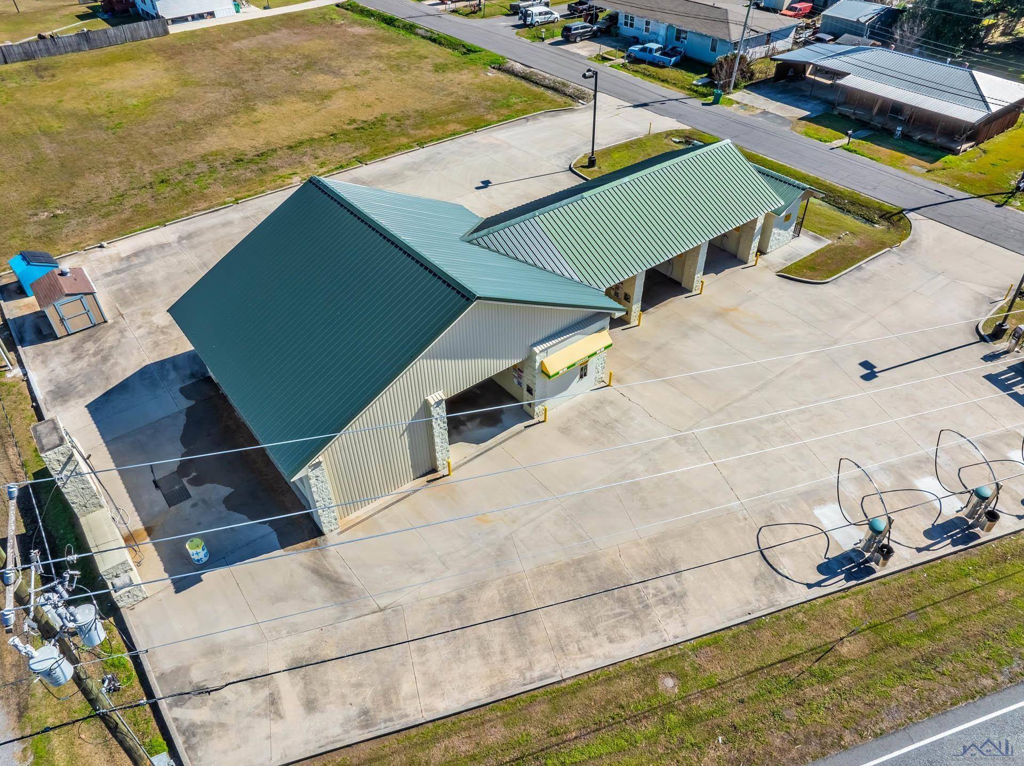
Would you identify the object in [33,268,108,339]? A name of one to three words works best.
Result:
shed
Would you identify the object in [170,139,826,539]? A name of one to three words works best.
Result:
building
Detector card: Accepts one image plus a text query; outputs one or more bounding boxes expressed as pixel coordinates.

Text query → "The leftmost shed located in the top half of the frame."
[1,243,56,298]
